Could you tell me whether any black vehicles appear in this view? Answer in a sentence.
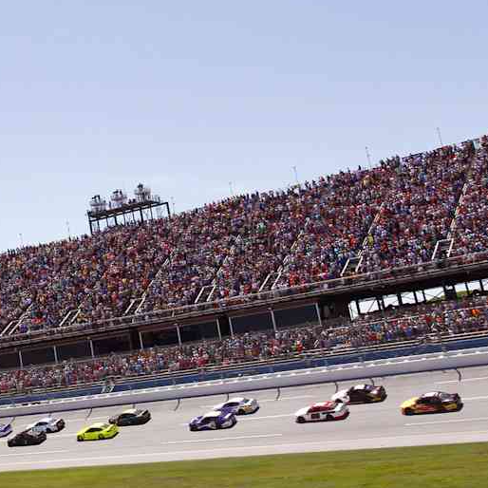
Yes, the picture does show a black vehicle.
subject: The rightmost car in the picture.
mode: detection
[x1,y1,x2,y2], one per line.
[402,392,461,415]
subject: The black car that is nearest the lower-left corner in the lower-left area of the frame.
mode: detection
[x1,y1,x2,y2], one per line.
[9,430,47,447]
